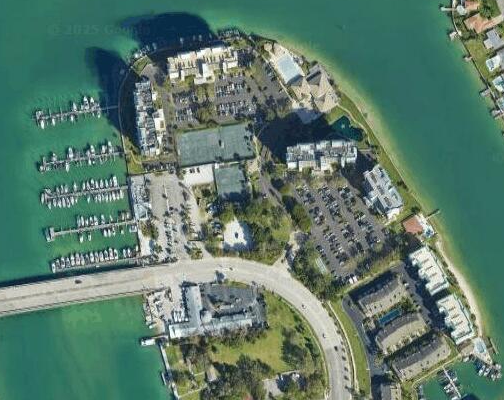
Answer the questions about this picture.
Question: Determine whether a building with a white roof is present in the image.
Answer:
Yes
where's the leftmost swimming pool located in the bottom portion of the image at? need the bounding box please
[375,307,404,327]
